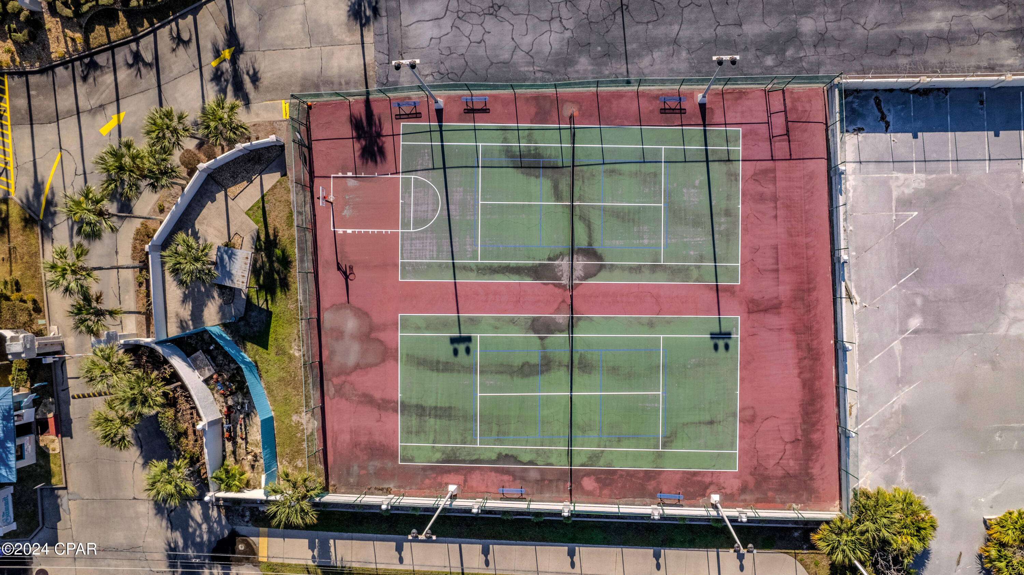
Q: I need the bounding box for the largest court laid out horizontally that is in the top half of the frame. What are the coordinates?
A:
[398,123,742,284]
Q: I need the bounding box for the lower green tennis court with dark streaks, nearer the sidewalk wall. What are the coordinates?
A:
[398,314,741,472]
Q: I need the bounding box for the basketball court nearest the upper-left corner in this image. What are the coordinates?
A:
[331,172,441,233]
